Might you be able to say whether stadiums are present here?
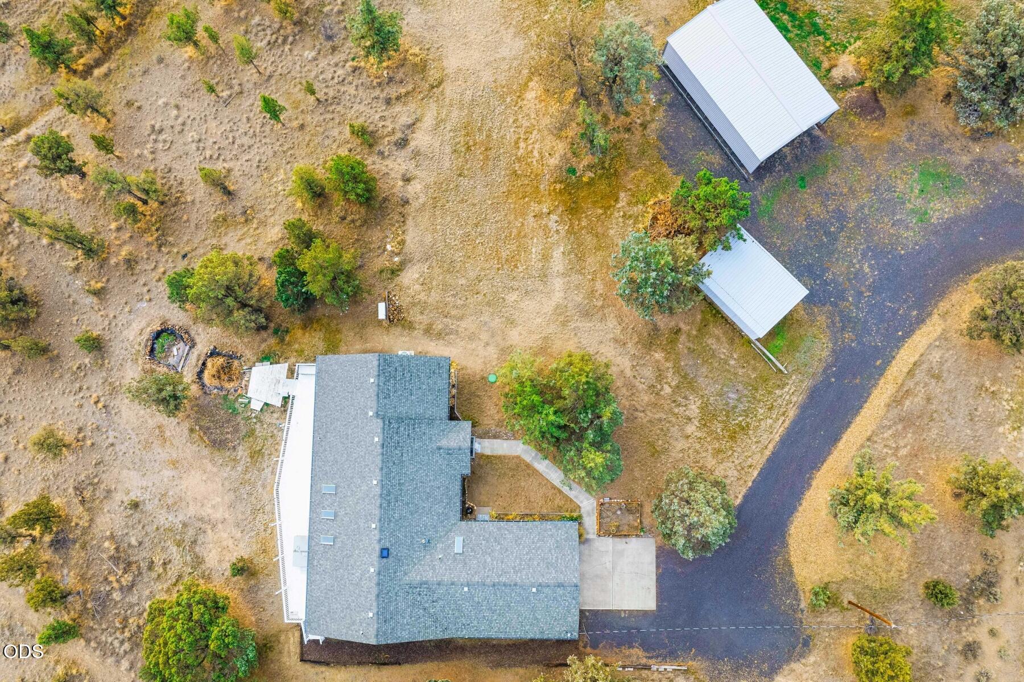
No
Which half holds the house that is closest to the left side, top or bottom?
bottom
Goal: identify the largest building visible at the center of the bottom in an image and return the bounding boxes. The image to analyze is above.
[304,354,582,646]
